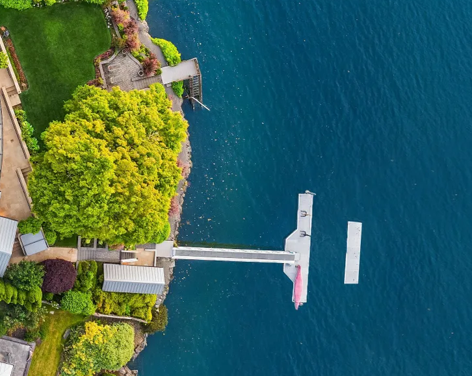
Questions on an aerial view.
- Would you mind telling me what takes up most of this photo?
water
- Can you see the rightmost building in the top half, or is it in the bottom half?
bottom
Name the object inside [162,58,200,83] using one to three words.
pier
